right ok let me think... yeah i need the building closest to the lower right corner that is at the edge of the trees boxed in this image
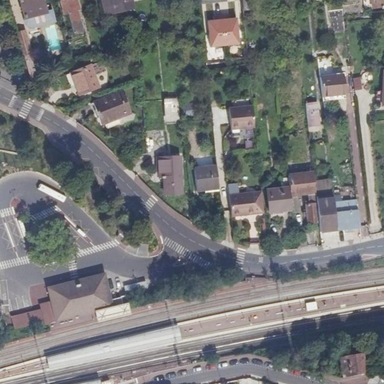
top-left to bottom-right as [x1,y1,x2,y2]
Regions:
[340,354,368,377]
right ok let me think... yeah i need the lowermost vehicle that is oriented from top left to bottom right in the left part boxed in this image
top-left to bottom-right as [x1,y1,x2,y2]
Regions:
[74,225,99,248]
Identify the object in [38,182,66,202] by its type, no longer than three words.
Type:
bus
